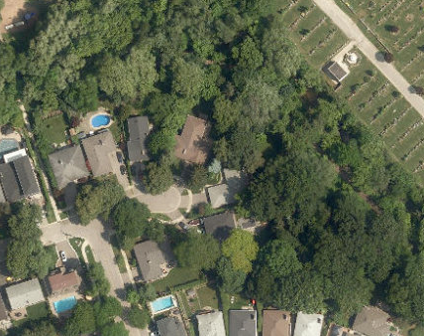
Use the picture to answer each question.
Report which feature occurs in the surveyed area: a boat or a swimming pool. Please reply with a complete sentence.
The one in the frame is a swimming pool.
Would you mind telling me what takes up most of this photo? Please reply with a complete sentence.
For the most part, this view shows trees.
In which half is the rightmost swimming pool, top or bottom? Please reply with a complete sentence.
The rightmost swimming pool sits in the bottom half of the picture.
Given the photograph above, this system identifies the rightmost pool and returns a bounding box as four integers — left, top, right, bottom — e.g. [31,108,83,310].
[150,294,175,314]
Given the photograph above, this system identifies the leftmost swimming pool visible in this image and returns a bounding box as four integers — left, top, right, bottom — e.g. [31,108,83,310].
[0,138,19,156]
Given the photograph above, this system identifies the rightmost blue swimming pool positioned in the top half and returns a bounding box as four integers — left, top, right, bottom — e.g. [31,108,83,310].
[89,114,110,129]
